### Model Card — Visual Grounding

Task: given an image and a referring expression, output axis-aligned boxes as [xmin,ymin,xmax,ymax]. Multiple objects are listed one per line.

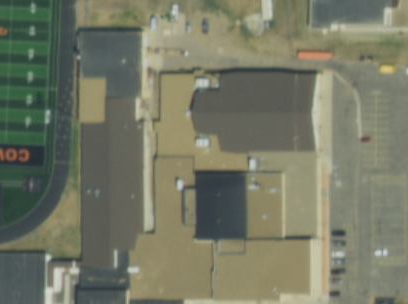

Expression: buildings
[128,72,324,304]
[0,252,52,304]
[310,0,395,28]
